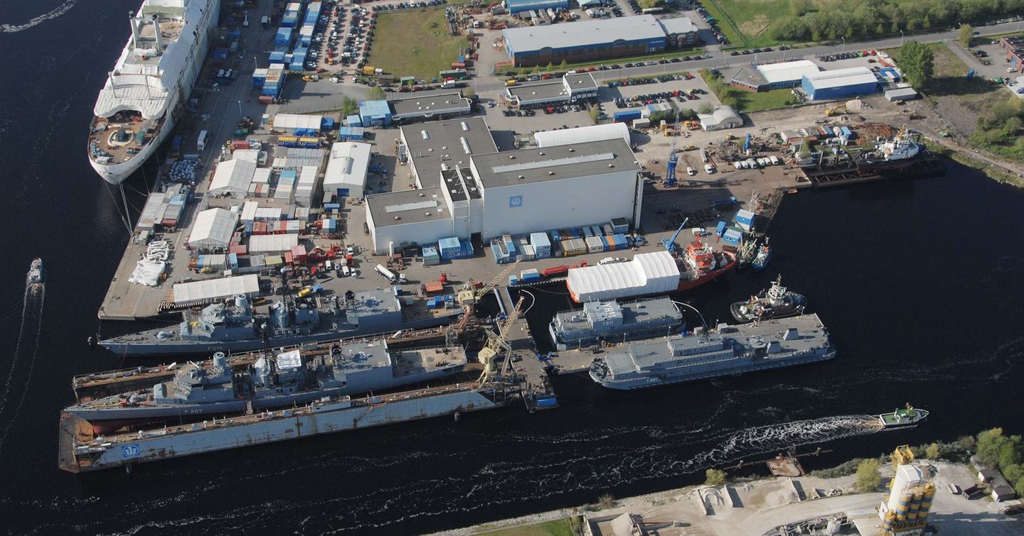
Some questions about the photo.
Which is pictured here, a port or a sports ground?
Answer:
port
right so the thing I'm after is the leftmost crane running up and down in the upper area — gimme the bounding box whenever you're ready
[662,109,681,190]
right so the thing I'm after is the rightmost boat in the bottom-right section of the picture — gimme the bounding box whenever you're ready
[878,405,928,432]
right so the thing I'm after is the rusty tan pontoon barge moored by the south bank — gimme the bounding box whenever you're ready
[766,452,802,477]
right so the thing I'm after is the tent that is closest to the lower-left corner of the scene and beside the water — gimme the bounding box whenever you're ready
[173,275,260,308]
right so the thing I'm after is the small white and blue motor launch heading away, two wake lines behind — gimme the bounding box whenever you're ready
[27,256,43,286]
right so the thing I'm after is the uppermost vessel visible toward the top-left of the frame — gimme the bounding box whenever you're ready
[83,0,225,186]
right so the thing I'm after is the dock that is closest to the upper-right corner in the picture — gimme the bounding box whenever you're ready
[801,141,948,193]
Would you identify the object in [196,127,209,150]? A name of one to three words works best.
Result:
vehicle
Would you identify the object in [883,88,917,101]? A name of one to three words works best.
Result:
shed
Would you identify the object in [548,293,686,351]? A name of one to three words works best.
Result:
ship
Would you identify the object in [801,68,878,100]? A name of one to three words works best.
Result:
building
